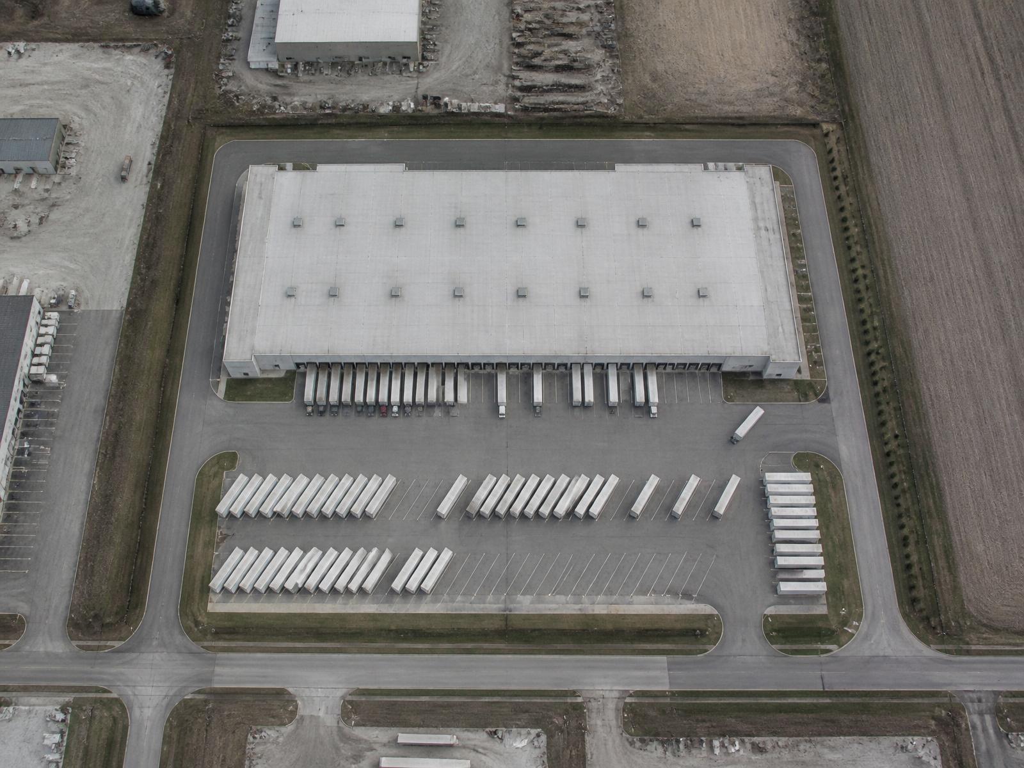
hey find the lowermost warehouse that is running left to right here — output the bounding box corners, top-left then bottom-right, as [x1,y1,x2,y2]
[222,163,801,377]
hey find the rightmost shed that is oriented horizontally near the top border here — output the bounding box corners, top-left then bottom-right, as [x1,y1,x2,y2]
[271,0,420,62]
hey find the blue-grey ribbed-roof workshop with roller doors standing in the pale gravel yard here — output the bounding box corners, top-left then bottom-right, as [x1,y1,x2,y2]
[0,119,66,173]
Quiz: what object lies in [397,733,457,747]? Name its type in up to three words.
trailer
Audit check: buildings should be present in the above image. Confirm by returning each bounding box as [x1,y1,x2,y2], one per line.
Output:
[0,119,66,173]
[0,295,41,486]
[271,0,420,62]
[222,163,801,377]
